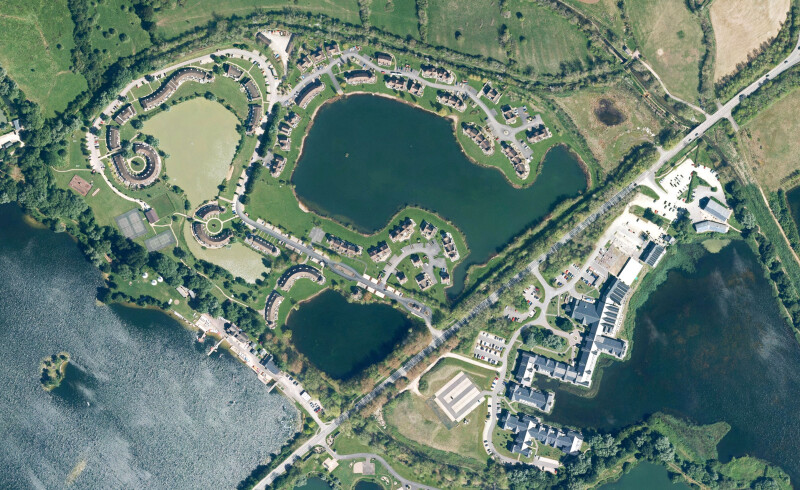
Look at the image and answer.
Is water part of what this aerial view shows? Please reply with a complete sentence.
Yes, there is water in the image.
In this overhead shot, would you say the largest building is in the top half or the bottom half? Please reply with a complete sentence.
The largest building sits in the bottom half of the picture.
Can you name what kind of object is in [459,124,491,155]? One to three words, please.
house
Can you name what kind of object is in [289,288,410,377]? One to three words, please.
pond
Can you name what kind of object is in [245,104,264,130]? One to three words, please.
building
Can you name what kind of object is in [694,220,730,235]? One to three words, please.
barn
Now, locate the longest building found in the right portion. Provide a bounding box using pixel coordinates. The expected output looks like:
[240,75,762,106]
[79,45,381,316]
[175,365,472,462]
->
[516,295,629,388]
